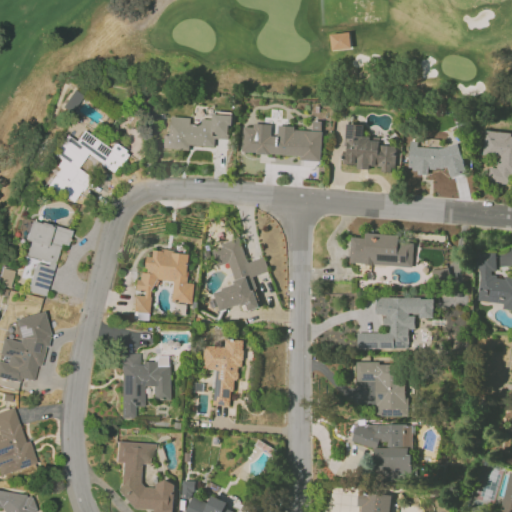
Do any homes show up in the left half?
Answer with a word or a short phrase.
Yes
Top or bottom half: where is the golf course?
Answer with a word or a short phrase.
top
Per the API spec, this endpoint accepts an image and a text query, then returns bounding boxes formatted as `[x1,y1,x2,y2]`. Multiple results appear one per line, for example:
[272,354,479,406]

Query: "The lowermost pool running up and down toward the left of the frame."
[164,442,178,470]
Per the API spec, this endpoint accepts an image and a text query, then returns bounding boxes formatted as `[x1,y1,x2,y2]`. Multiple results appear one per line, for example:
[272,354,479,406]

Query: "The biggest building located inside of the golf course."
[330,32,352,51]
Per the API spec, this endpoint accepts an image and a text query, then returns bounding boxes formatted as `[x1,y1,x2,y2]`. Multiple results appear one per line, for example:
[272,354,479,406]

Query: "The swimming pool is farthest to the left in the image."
[42,206,69,220]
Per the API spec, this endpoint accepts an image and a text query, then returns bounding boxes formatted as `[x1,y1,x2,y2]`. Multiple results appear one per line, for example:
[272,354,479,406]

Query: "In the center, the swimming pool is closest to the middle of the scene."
[207,272,225,293]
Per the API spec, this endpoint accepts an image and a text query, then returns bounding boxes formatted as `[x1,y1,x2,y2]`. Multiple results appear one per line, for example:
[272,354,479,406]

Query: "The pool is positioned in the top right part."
[366,114,392,128]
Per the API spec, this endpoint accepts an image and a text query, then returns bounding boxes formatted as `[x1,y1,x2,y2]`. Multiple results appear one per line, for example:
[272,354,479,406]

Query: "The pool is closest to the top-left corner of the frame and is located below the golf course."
[82,104,103,124]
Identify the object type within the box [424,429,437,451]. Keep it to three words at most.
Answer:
swimming pool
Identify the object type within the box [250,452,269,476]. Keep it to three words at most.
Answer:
swimming pool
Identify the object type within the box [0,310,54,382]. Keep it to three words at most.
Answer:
house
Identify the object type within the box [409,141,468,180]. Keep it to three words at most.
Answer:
house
